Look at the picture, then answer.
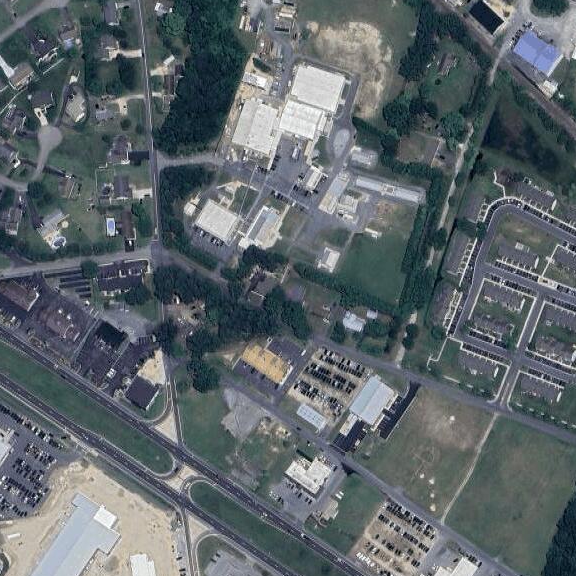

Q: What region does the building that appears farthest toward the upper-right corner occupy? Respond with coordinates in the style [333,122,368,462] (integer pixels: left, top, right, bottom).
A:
[514,30,563,79]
